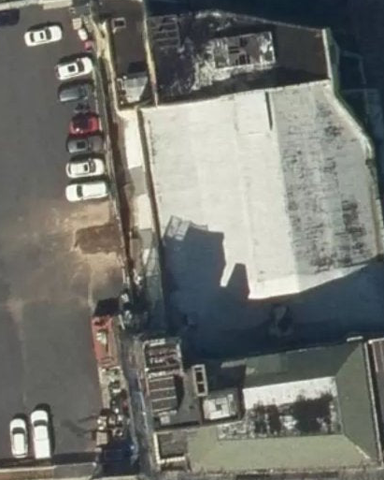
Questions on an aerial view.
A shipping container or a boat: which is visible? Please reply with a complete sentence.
This aerial view contains a shipping container.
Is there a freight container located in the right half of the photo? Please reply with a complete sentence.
No, I can find no freight container in the right half of the photo.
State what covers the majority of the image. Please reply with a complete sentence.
The largest share of the image is taken up by buildings.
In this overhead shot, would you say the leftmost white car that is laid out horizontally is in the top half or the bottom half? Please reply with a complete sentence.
The leftmost white car that is laid out horizontally is in the top half of the image.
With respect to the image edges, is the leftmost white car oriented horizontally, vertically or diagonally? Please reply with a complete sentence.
In this picture, the leftmost white car is oriented vertically.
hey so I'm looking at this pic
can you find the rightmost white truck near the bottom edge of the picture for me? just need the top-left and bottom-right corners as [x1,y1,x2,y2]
[28,407,51,459]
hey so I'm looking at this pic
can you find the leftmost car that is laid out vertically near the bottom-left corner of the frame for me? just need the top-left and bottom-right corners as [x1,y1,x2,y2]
[9,416,30,457]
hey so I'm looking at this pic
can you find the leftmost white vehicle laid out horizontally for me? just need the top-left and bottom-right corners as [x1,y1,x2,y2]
[23,25,63,46]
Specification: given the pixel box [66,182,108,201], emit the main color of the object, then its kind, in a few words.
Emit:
white car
